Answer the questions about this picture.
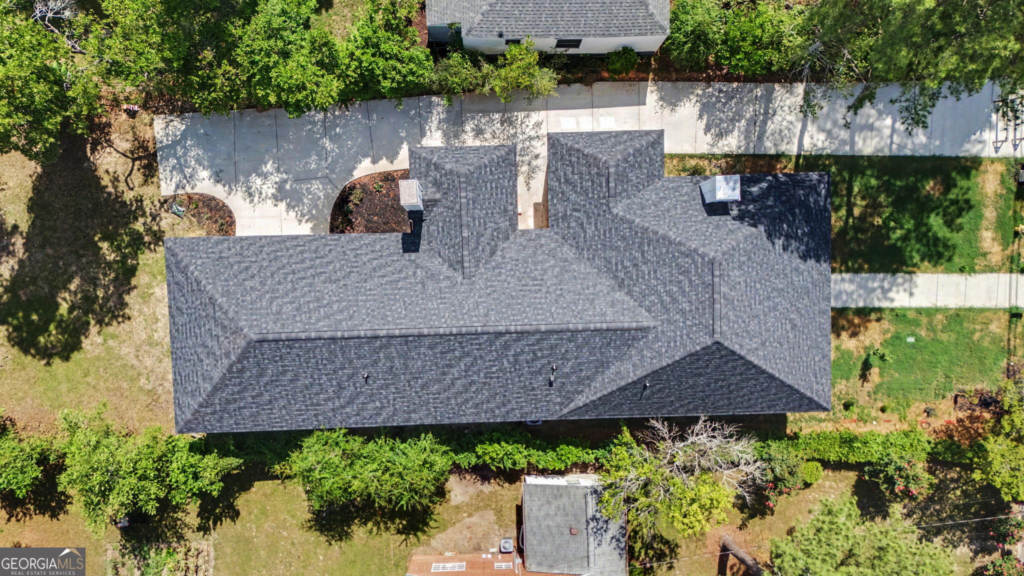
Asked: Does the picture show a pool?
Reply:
No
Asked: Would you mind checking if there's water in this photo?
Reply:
No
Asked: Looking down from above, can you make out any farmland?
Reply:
No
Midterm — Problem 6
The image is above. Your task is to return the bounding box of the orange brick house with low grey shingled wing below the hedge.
[399,475,639,576]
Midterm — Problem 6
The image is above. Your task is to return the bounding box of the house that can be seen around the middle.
[163,128,831,435]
